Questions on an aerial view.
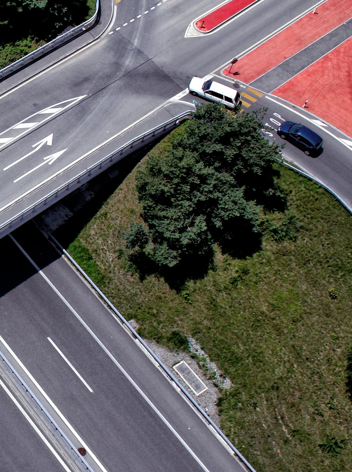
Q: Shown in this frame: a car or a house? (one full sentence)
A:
Visible in the photo is a car.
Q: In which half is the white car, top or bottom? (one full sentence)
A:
The white car sits in the top half of the picture.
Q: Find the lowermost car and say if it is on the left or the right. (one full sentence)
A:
It is on the right.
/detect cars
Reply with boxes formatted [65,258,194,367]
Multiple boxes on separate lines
[278,121,328,158]
[186,77,239,108]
